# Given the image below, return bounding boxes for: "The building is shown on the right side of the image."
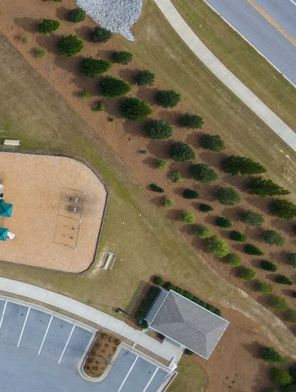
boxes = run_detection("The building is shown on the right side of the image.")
[146,288,230,359]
